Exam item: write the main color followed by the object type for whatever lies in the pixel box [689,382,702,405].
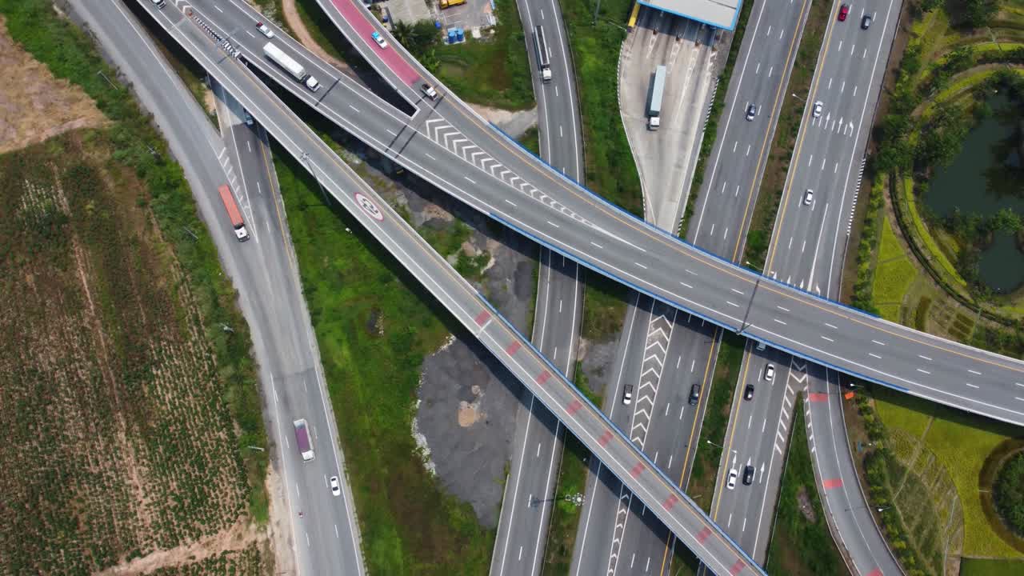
gray vehicle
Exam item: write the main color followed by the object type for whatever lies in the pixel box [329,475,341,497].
white vehicle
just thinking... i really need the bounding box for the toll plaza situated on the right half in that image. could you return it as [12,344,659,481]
[619,0,742,234]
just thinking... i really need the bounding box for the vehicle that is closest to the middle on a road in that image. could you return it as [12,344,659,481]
[622,382,634,406]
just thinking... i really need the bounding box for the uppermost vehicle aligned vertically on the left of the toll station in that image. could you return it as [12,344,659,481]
[532,22,553,84]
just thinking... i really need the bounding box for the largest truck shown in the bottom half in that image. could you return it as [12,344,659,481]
[290,418,315,464]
